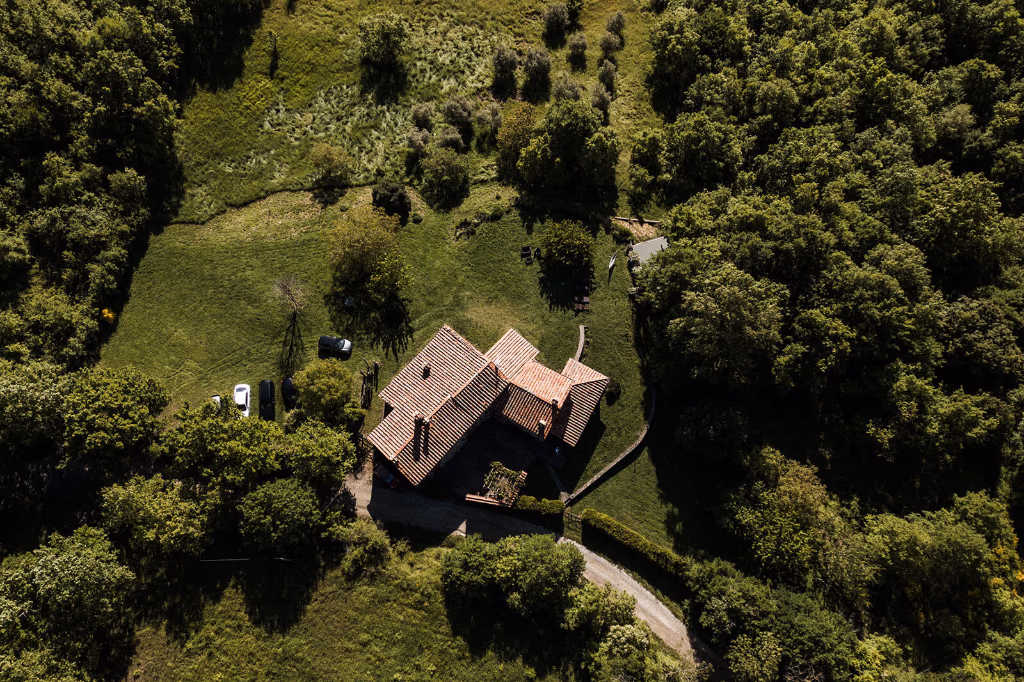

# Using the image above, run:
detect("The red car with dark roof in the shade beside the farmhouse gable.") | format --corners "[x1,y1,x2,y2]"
[369,463,401,495]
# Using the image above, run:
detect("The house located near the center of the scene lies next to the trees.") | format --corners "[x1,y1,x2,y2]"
[366,327,610,490]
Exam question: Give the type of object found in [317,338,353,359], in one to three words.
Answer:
car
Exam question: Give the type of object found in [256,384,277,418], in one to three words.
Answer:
car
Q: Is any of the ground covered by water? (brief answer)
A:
No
